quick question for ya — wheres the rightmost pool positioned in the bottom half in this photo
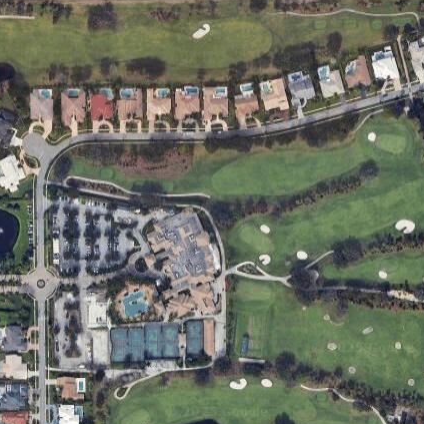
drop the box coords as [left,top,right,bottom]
[123,290,149,318]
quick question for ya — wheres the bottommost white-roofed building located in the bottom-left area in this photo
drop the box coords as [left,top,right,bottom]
[59,404,80,424]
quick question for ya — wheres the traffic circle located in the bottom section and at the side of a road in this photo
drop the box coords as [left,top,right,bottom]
[23,265,62,302]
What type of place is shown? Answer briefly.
golf course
